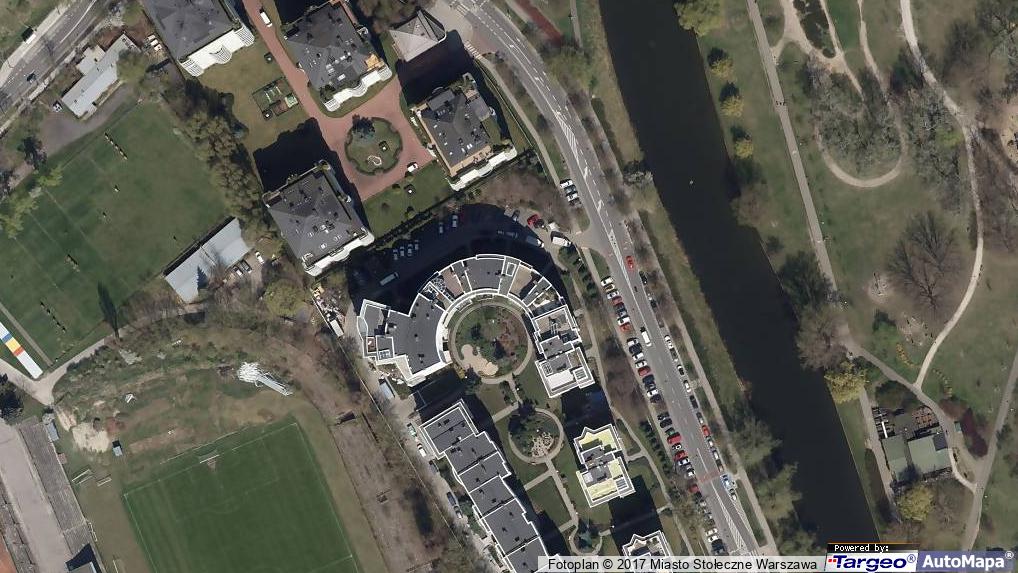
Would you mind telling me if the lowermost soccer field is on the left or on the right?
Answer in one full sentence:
You can find the lowermost soccer field on the left side of the picture.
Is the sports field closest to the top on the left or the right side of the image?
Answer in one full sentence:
It is on the left.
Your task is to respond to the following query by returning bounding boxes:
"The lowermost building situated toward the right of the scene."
[622,529,674,573]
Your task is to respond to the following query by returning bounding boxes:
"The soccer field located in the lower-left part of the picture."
[117,416,367,573]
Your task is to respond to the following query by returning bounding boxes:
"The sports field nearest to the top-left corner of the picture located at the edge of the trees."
[0,91,234,368]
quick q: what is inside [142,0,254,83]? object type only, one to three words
house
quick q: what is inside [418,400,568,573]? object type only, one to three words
building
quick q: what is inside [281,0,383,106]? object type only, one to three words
house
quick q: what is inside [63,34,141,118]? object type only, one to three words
building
